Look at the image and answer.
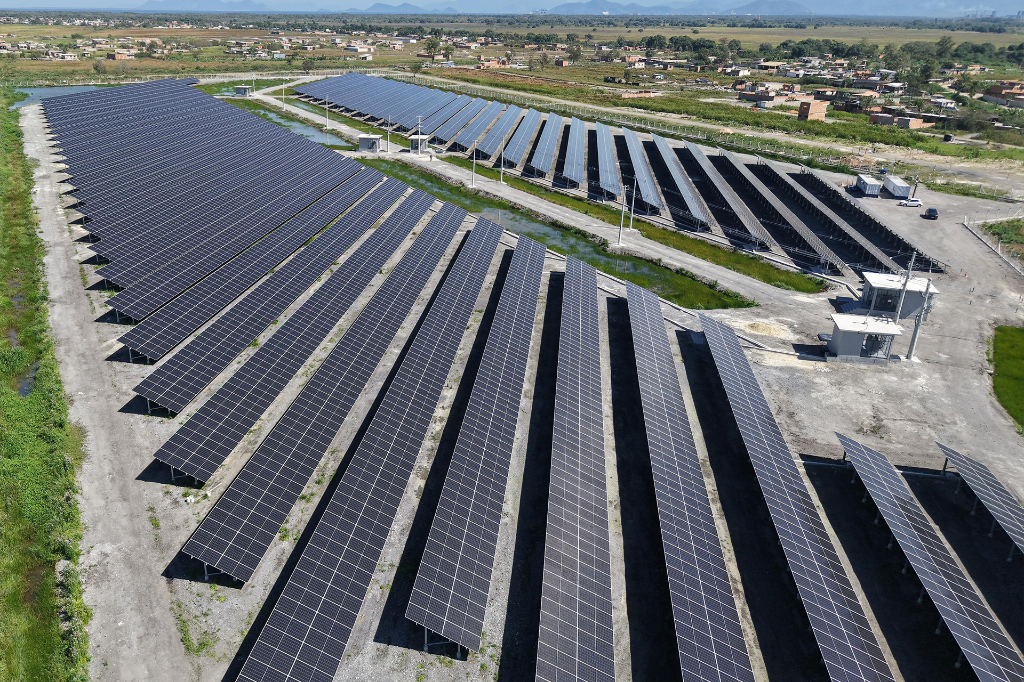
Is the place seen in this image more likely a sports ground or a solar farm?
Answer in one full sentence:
What you see here is a solar farm.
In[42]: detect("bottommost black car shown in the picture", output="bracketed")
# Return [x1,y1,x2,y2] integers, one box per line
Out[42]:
[924,206,938,220]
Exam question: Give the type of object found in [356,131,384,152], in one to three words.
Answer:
building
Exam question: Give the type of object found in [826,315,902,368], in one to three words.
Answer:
building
